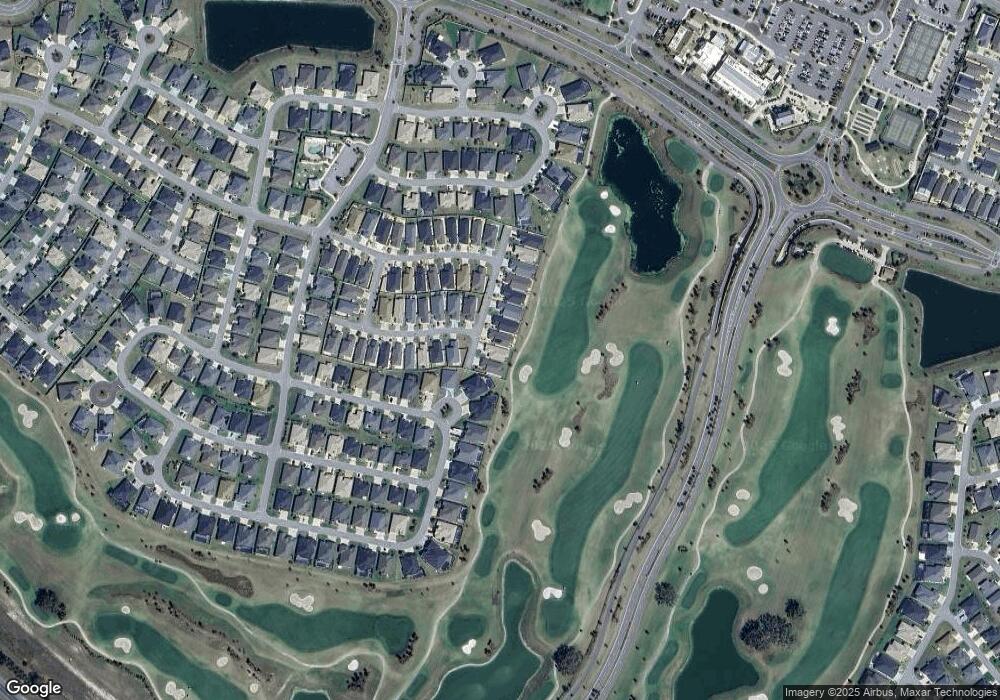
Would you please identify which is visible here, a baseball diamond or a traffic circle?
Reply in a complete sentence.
The image shows a traffic circle.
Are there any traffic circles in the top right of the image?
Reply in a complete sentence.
Yes, I can see a traffic circle in the top right of the image.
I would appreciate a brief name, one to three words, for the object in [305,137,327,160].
swimming pool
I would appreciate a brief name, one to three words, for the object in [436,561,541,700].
pond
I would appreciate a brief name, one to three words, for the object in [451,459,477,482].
house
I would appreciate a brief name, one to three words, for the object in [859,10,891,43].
roundabout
